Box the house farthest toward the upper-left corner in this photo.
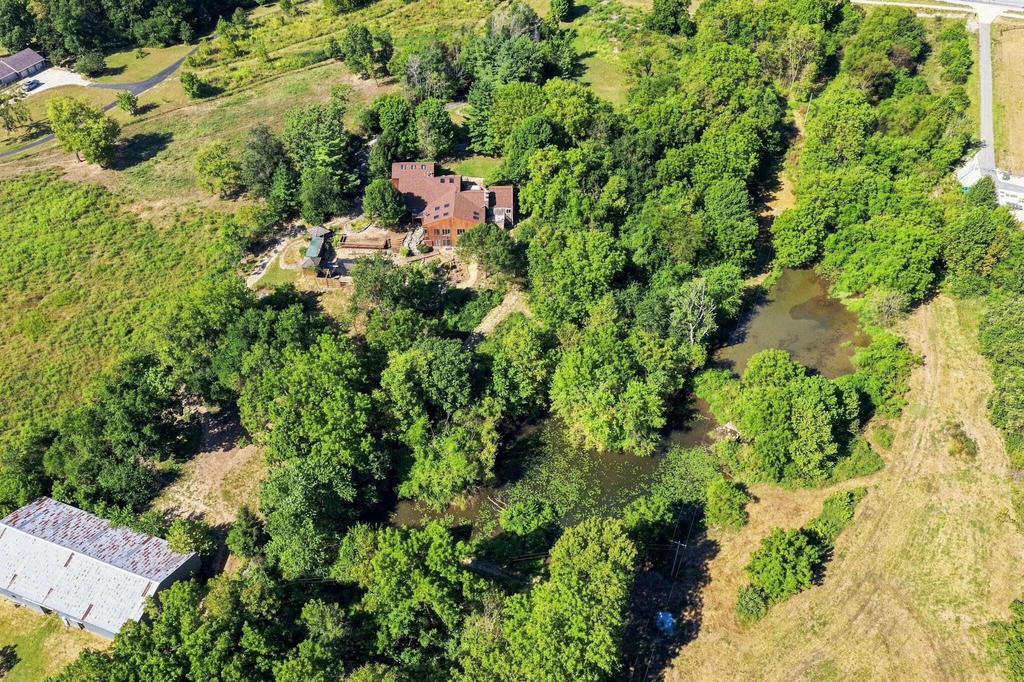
[0,49,49,88]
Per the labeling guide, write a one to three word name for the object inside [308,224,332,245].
building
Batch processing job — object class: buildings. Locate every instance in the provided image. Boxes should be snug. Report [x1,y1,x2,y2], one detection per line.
[390,162,514,249]
[0,487,200,655]
[0,49,49,88]
[296,259,321,282]
[308,224,332,245]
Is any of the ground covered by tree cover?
Yes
